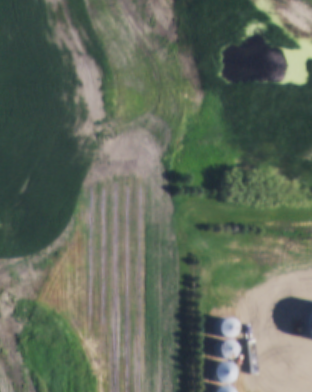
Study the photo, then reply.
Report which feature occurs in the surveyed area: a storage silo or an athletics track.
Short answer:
storage silo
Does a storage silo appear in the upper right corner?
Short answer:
No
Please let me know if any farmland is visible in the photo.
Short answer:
Yes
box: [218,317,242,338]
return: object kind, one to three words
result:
silo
